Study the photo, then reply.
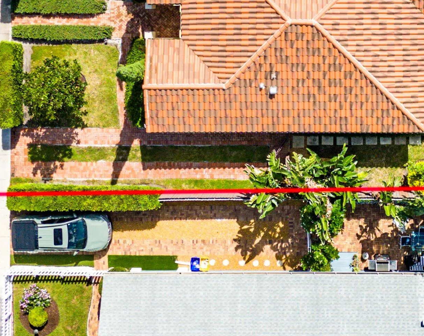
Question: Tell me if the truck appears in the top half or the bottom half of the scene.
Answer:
bottom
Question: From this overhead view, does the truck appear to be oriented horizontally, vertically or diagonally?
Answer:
horizontally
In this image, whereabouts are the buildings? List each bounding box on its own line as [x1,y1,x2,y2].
[140,0,424,133]
[99,269,424,336]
